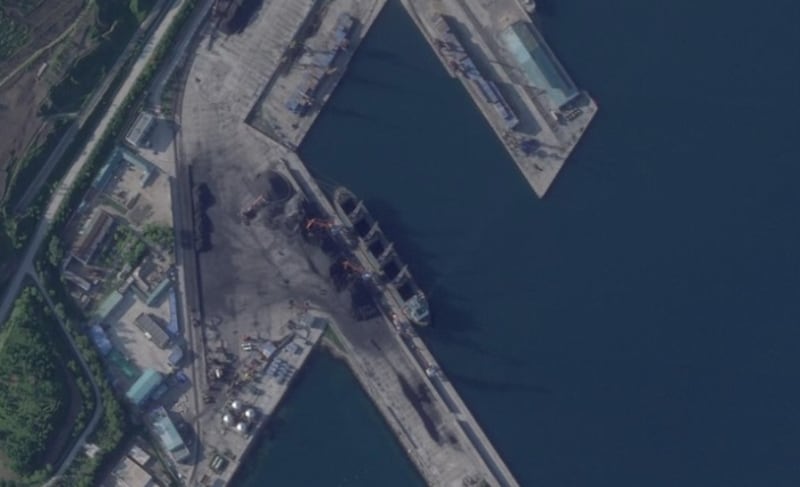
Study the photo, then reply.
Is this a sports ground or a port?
port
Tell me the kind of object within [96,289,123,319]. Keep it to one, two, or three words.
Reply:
building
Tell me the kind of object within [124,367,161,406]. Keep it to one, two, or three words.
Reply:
building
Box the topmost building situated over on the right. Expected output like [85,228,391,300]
[504,19,580,109]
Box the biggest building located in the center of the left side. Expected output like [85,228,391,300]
[71,208,112,263]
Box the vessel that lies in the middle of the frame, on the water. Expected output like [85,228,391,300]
[318,176,430,347]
